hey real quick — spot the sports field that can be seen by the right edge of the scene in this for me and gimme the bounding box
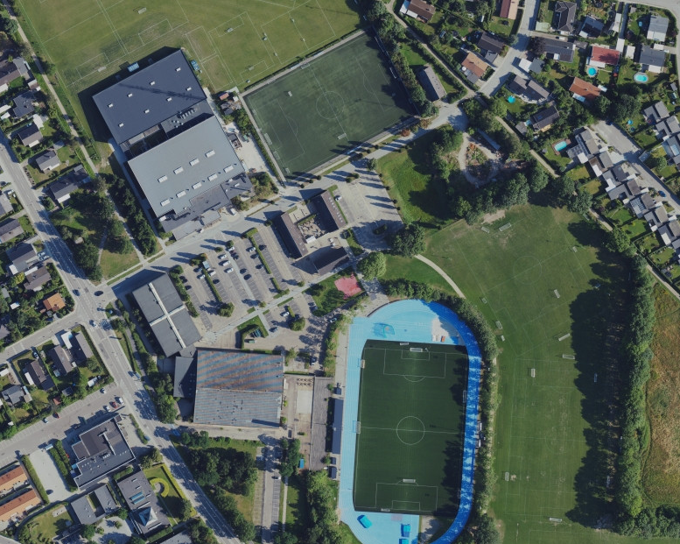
[430,201,680,544]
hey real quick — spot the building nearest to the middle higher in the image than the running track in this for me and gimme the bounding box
[314,246,351,276]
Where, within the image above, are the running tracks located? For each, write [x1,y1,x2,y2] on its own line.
[338,299,481,544]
